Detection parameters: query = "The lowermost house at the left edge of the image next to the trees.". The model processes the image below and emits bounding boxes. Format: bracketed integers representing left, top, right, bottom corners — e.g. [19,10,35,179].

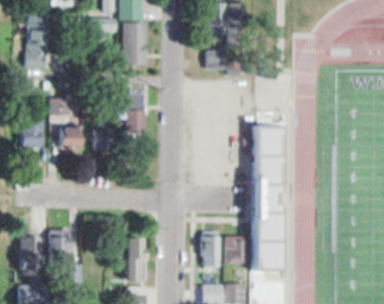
[18,284,48,304]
